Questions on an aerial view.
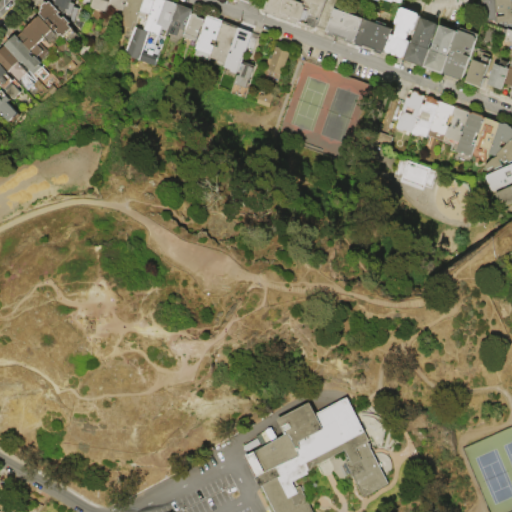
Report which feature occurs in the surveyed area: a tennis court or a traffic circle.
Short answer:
tennis court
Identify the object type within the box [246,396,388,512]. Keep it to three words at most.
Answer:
building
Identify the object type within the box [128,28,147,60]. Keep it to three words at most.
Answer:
shed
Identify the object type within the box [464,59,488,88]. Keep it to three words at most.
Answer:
house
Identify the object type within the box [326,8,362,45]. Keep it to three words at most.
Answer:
house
